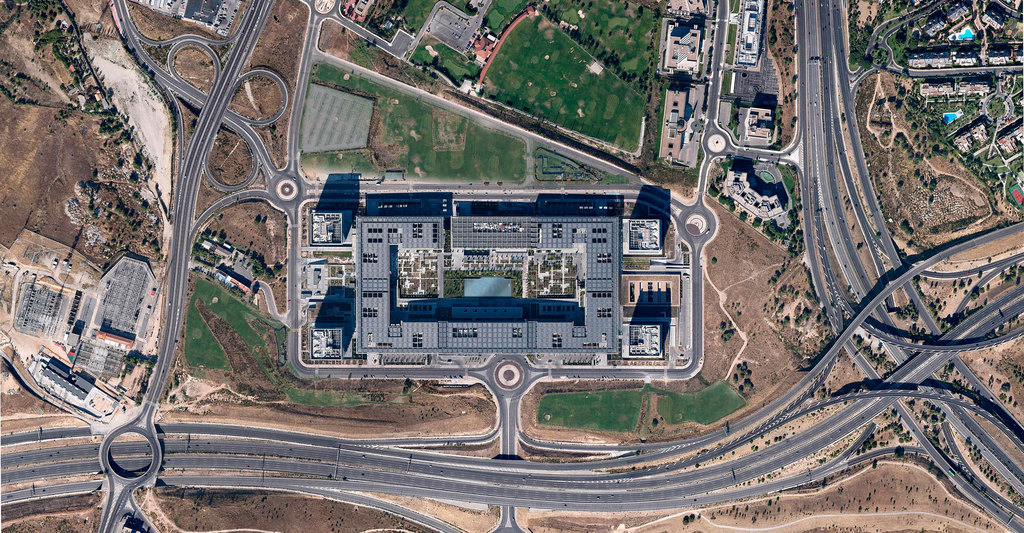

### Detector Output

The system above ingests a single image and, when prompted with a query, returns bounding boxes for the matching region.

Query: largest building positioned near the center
[356,216,619,355]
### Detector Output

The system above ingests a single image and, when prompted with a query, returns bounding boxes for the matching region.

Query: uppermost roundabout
[304,0,345,24]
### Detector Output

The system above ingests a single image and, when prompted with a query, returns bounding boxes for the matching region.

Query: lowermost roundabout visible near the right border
[980,90,1015,125]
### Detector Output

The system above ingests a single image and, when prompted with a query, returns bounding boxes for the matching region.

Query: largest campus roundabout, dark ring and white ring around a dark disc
[484,355,533,400]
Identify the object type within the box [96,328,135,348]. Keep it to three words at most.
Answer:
building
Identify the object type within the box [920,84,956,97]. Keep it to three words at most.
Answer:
building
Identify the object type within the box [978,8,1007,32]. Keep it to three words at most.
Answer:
house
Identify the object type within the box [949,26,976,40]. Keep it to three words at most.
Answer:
swimming pool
